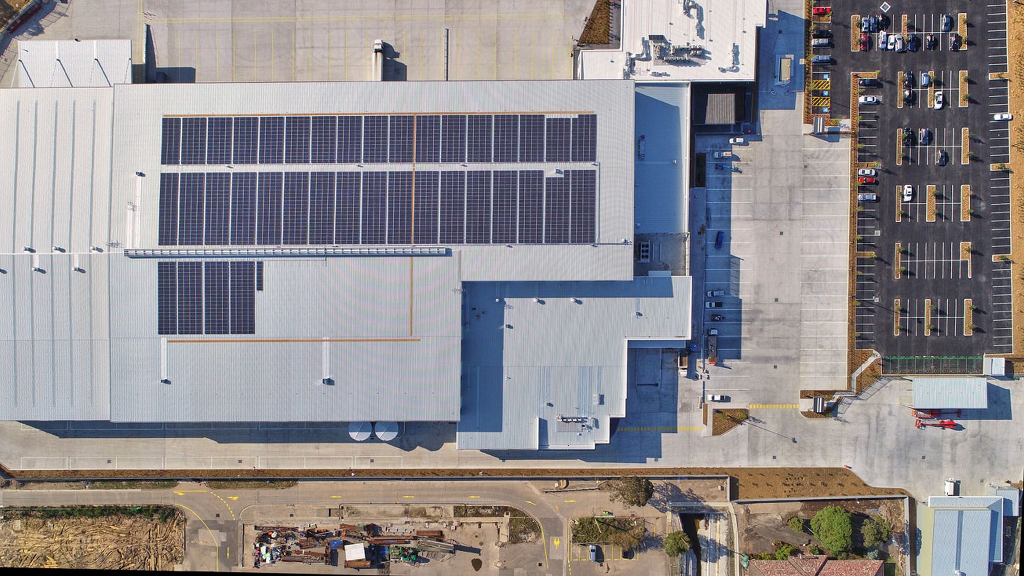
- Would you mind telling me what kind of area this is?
industrial area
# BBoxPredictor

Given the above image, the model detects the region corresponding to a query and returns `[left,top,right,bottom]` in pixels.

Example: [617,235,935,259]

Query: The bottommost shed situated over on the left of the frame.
[344,538,369,562]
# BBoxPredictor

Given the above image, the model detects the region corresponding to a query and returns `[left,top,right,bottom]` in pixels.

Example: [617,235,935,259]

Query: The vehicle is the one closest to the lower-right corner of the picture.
[943,477,957,496]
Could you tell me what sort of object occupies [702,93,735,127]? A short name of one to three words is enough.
building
